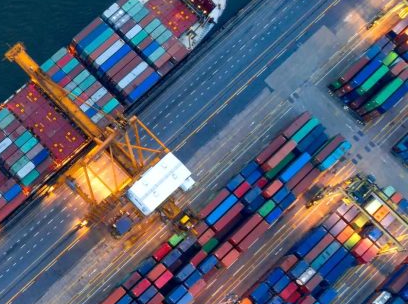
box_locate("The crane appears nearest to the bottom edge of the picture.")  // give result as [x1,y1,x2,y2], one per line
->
[307,171,408,259]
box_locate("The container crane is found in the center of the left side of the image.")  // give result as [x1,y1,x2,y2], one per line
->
[3,35,198,232]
